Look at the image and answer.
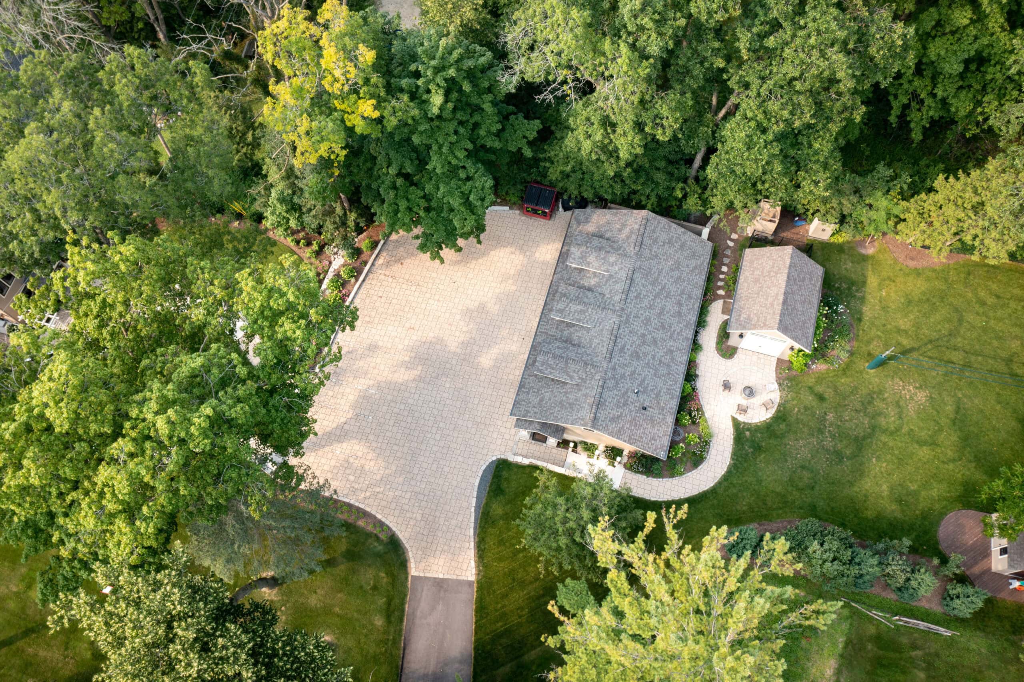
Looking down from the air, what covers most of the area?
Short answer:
trees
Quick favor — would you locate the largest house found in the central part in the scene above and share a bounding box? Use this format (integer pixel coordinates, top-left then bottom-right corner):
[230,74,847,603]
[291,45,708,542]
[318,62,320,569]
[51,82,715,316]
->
[509,209,715,461]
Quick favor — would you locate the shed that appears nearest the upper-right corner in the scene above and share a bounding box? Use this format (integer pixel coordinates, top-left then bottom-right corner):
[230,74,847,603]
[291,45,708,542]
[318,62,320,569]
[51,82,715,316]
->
[724,245,826,362]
